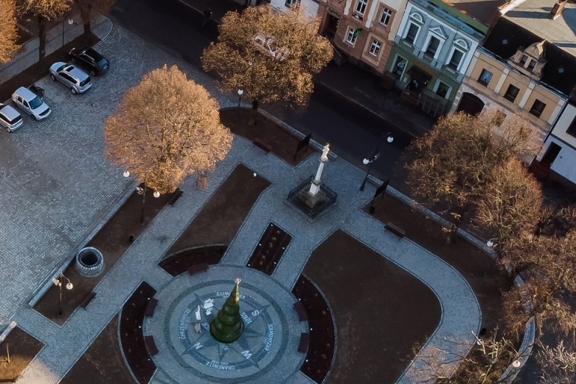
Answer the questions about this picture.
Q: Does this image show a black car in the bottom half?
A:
No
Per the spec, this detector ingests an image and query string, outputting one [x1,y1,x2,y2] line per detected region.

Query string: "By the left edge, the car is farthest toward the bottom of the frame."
[0,103,24,130]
